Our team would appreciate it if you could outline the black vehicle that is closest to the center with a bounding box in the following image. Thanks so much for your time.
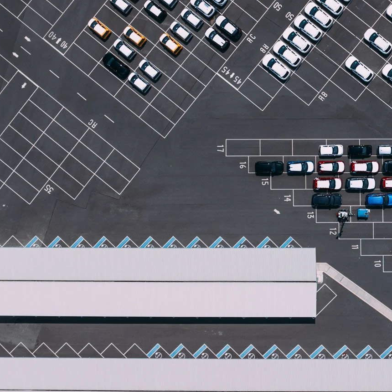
[254,160,284,175]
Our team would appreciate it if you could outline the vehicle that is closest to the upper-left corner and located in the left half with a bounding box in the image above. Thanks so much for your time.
[89,18,112,40]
